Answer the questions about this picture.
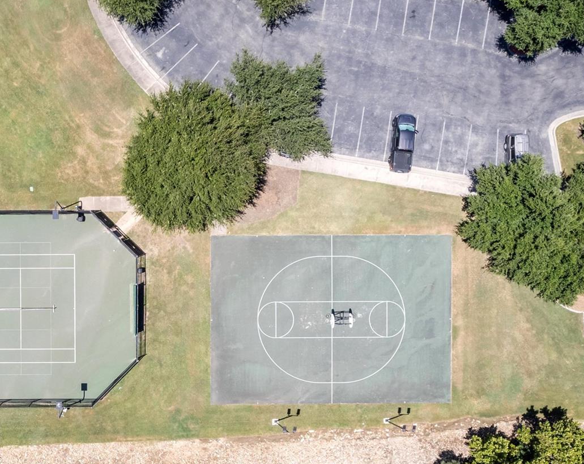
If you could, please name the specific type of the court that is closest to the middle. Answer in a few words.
basketball court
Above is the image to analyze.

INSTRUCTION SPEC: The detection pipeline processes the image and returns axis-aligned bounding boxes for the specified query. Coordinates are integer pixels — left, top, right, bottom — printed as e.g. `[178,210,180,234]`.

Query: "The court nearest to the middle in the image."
[211,234,452,405]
